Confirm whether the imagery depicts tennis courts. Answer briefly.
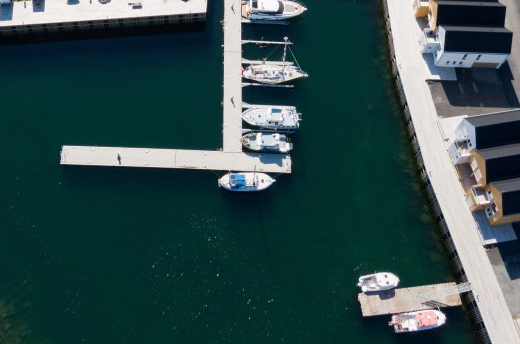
No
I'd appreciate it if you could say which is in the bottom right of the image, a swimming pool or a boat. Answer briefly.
boat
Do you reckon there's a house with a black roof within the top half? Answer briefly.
Yes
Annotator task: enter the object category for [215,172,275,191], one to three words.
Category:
boat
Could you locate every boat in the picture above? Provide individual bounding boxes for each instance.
[241,42,307,83]
[241,132,295,154]
[242,106,305,131]
[356,272,400,291]
[215,172,275,191]
[241,0,309,19]
[389,311,447,335]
